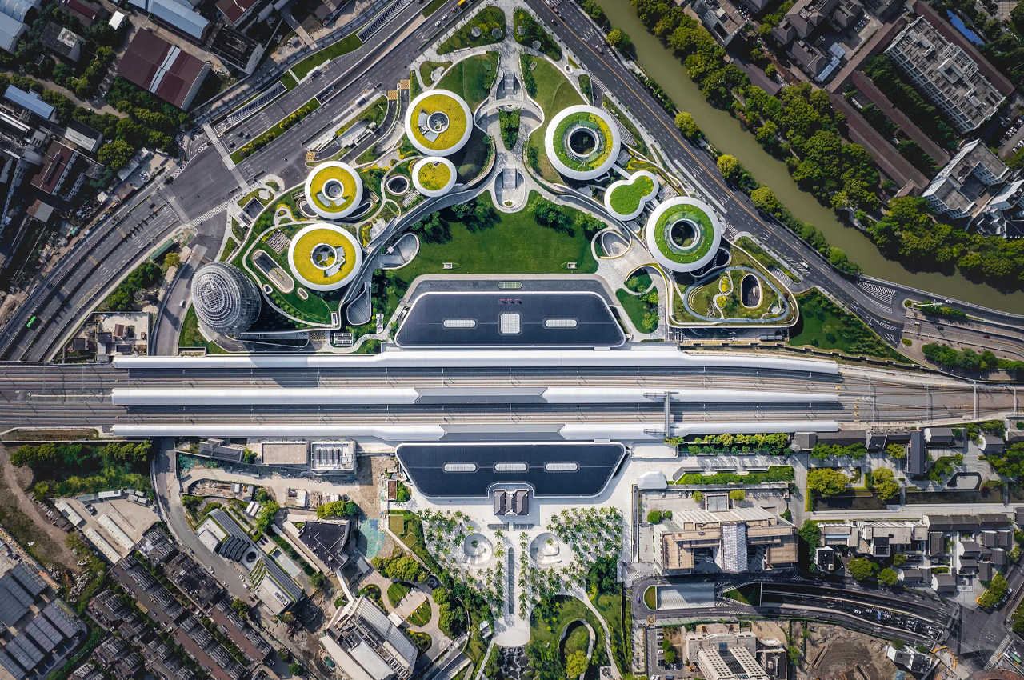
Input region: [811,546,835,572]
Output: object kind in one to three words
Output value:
house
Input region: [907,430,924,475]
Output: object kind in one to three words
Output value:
building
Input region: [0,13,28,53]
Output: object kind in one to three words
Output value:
shed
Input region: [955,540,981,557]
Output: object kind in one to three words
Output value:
house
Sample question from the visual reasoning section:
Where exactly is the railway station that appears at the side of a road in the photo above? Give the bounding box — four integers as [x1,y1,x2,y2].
[111,350,840,441]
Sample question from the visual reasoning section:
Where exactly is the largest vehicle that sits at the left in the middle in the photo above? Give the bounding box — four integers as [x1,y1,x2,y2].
[24,314,40,330]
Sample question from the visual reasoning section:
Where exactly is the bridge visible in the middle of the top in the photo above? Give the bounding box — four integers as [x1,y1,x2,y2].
[474,96,546,126]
